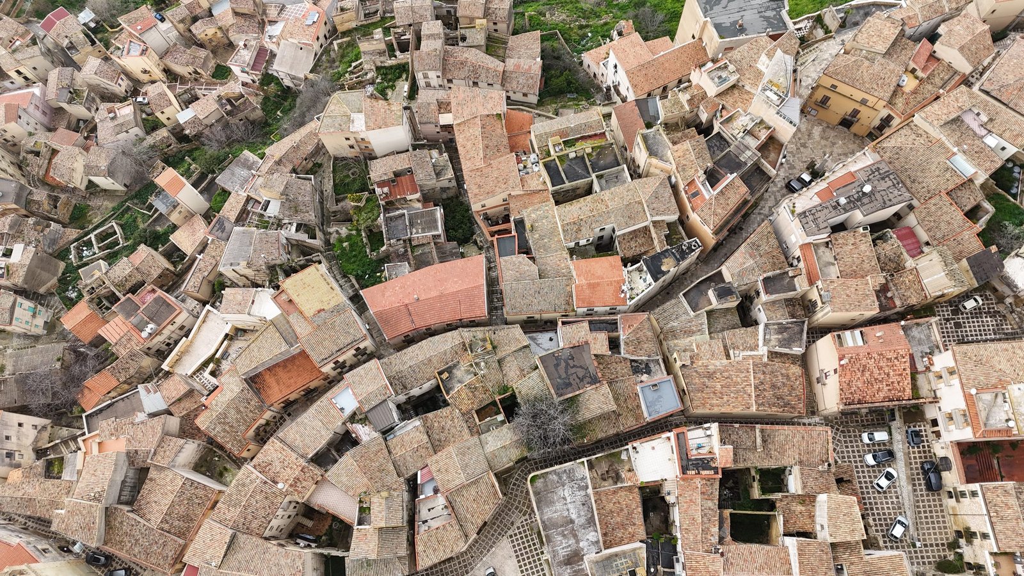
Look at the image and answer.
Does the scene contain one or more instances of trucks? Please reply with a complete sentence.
No, I find no truck anywhere in the image.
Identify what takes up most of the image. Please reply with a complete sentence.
For the most part, this view shows buildings.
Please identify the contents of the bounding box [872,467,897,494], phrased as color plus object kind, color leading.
white car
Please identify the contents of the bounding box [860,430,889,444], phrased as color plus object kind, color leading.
white car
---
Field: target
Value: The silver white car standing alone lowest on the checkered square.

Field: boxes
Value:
[885,514,907,543]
